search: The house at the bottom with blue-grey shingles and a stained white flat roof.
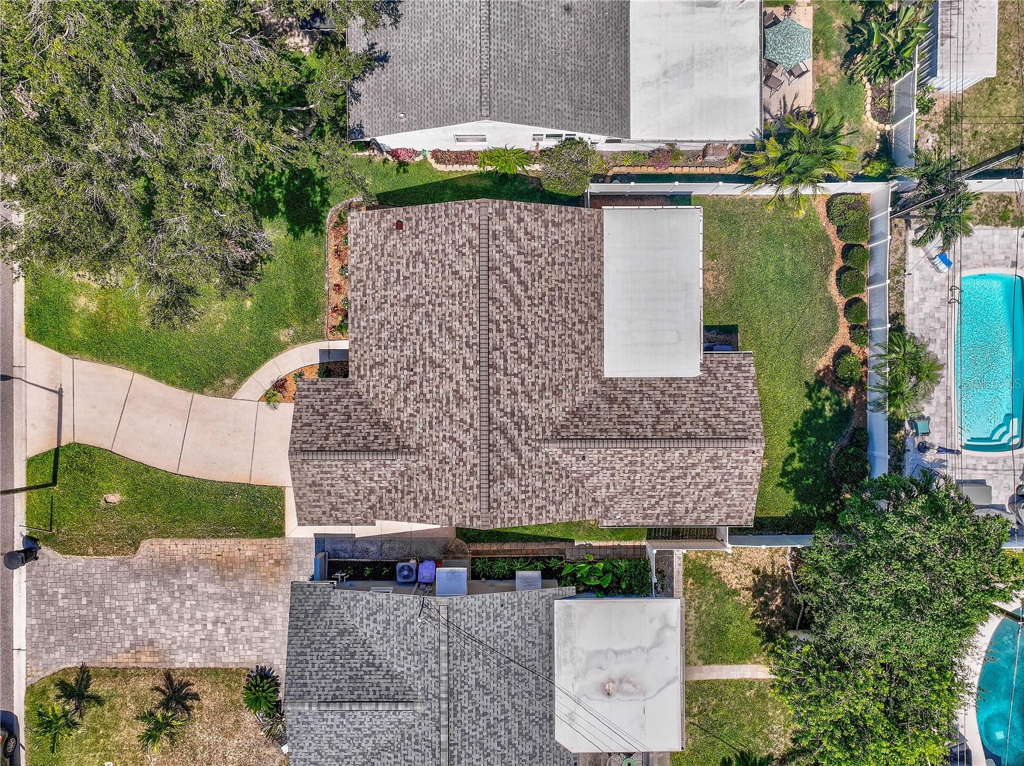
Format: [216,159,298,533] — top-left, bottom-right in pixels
[285,566,685,766]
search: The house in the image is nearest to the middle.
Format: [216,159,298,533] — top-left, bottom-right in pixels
[290,199,765,529]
